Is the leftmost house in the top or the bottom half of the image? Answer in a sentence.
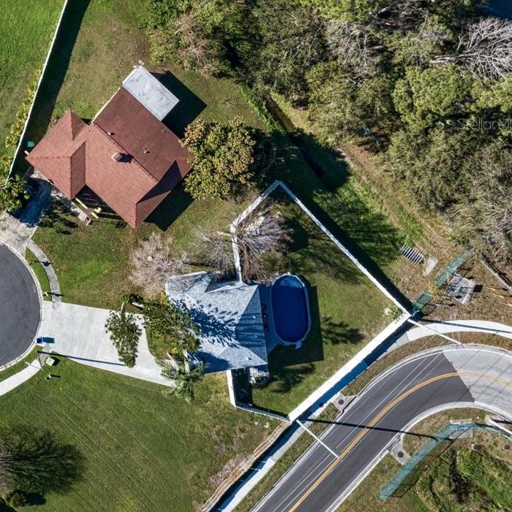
It is in the top half that the leftmost house appears.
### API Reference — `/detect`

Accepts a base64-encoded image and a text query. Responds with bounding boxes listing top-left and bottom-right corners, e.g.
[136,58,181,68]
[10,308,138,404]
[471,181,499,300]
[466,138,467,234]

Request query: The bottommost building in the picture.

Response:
[160,270,269,374]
